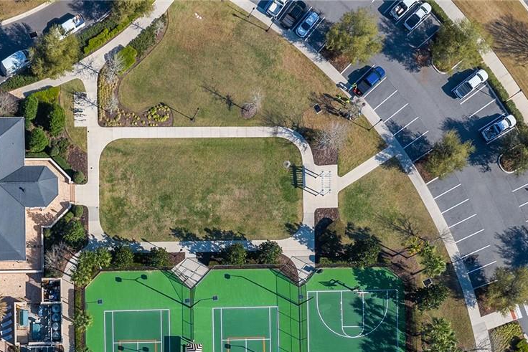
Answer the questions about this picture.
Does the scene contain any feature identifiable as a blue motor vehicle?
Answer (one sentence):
Yes, there is a blue motor vehicle in the image.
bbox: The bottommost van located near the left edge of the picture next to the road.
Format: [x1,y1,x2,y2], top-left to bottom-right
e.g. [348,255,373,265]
[0,52,34,81]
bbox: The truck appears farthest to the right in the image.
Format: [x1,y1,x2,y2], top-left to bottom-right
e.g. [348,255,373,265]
[478,115,513,145]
